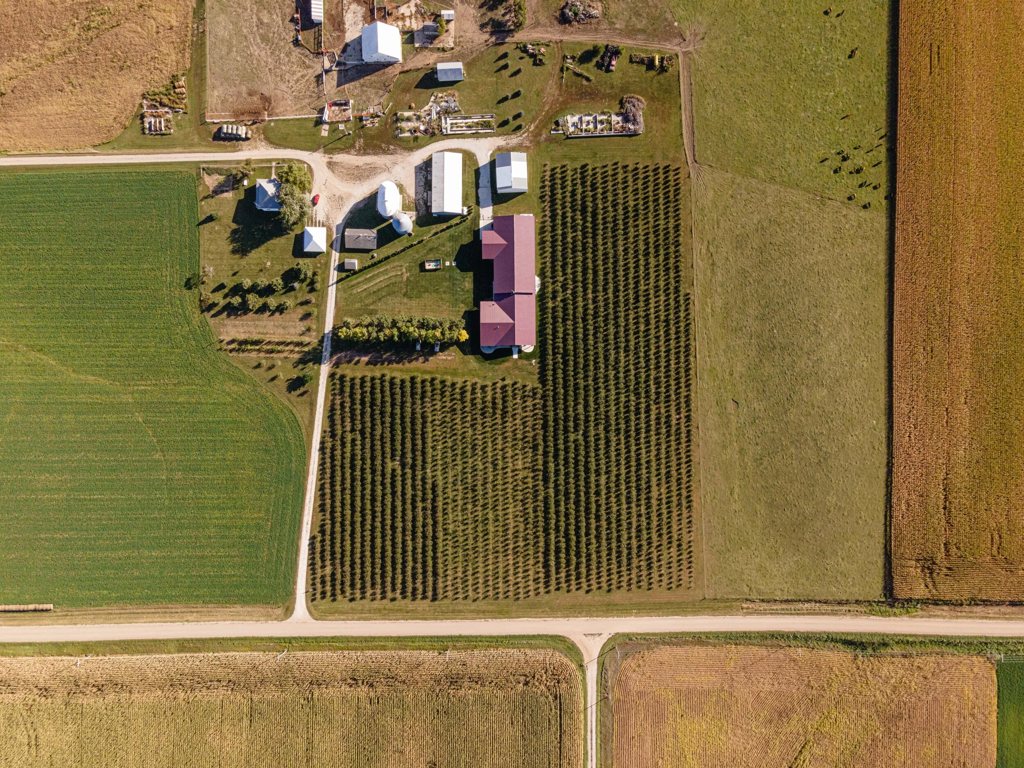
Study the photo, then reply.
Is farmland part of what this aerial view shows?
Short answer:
Yes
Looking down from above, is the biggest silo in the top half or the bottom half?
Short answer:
top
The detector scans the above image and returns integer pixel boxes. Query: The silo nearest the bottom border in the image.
[392,212,414,235]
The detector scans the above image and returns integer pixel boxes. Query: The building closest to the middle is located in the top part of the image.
[480,215,536,346]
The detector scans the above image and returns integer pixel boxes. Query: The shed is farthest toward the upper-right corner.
[496,150,528,193]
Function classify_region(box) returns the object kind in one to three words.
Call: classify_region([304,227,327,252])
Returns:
building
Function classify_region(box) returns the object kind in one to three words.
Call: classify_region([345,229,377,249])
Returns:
shed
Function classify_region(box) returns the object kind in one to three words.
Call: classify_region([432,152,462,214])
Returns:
shed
